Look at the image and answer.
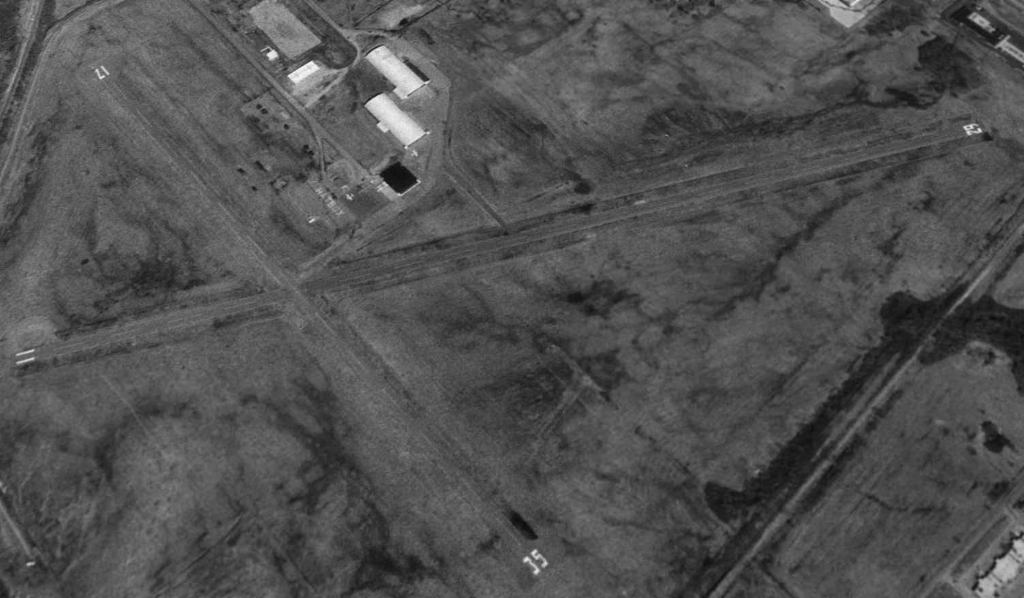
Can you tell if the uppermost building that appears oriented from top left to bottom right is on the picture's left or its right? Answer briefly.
right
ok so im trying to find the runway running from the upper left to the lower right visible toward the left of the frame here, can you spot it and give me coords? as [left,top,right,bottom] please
[76,49,584,598]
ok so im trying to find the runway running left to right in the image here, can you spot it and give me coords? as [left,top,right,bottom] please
[10,119,1001,373]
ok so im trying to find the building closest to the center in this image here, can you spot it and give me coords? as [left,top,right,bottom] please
[380,161,422,199]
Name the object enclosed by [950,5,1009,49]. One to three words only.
building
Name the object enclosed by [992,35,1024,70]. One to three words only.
building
